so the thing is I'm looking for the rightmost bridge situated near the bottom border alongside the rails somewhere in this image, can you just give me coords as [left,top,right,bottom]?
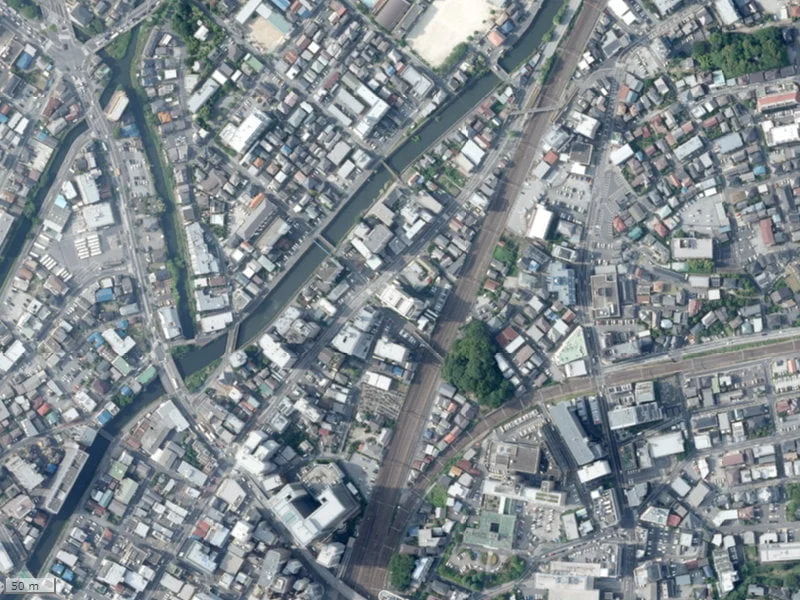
[317,563,370,600]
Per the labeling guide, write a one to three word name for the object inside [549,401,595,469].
building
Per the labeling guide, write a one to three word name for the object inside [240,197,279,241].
building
